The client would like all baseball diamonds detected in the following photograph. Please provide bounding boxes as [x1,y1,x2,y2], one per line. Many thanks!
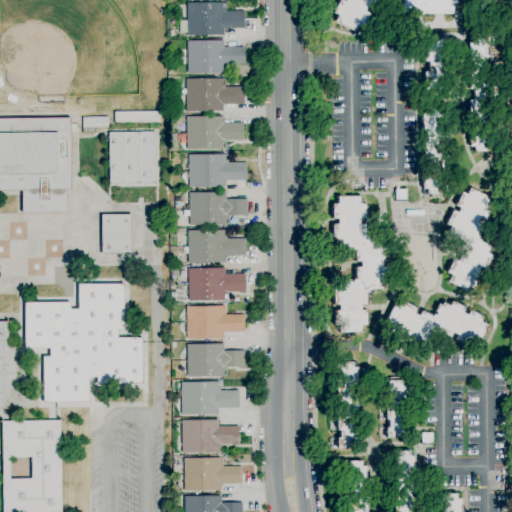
[0,0,138,94]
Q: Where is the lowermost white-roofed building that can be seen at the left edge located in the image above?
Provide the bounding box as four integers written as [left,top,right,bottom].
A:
[2,420,62,512]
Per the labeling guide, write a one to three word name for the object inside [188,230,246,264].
house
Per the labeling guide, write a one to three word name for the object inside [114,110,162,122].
building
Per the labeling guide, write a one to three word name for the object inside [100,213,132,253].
building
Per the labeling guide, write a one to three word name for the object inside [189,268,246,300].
house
